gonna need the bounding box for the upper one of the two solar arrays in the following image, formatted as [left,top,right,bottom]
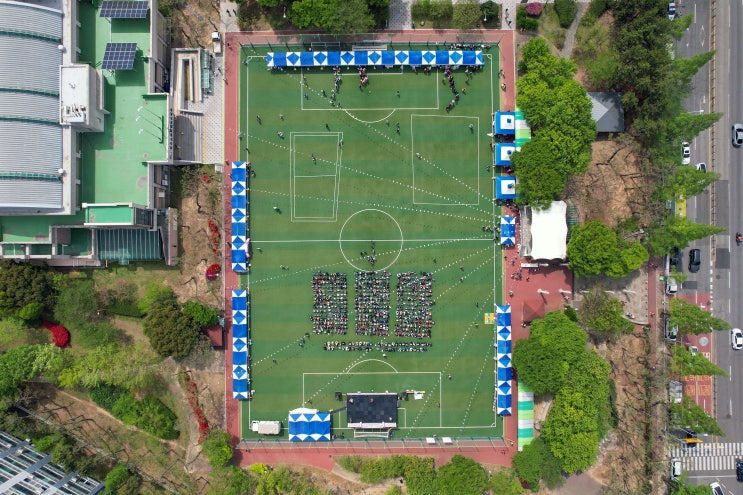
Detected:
[100,0,149,21]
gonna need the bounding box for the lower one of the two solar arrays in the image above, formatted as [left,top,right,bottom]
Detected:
[102,43,137,70]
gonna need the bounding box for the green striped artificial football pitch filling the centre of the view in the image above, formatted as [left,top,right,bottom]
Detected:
[239,44,503,441]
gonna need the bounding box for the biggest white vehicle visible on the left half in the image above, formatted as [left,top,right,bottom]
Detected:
[253,421,282,436]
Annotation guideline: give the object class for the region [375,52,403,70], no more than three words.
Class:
tent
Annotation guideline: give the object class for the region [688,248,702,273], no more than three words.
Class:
car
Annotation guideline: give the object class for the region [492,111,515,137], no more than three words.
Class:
tent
